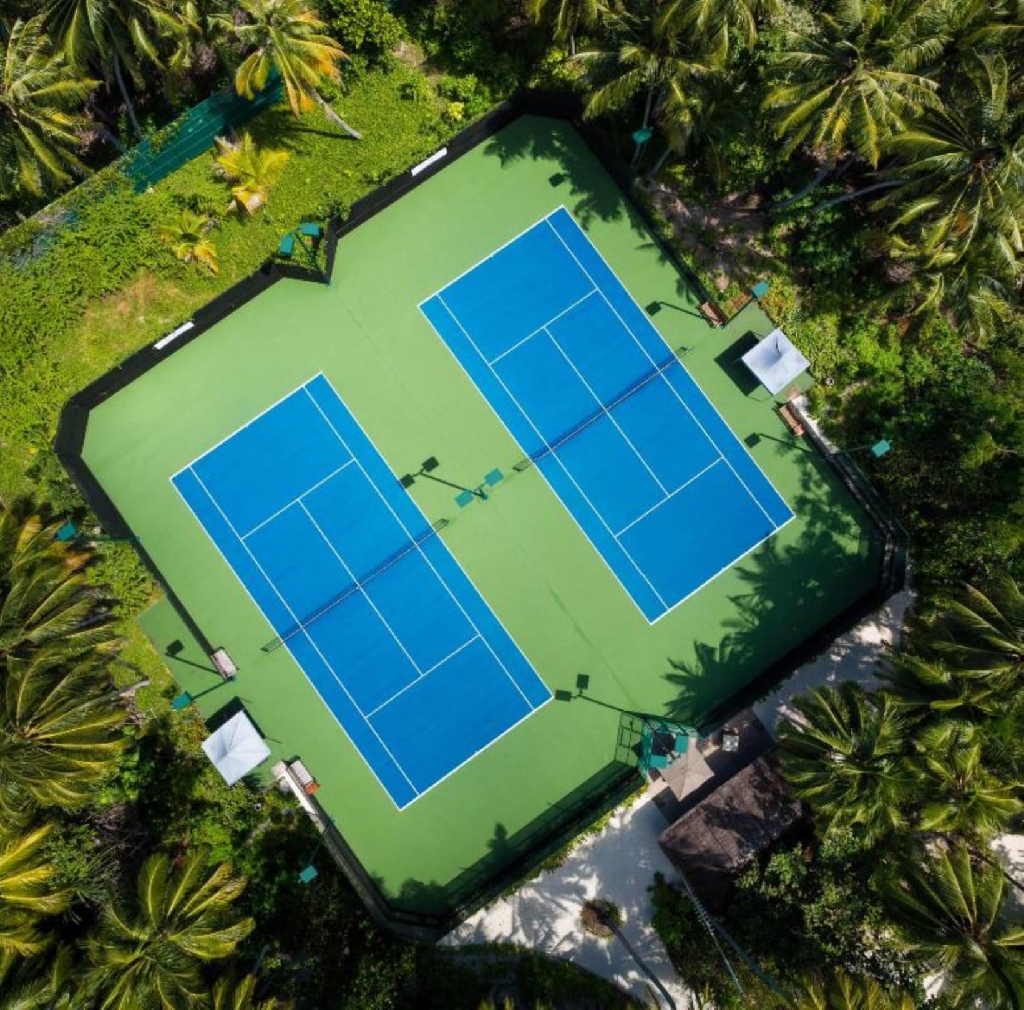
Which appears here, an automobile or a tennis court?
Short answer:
tennis court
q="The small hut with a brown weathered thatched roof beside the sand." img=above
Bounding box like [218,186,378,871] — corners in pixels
[655,750,812,896]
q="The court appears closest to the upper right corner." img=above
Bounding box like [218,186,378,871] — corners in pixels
[418,206,796,625]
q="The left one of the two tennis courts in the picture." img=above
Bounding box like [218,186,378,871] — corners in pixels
[170,373,553,810]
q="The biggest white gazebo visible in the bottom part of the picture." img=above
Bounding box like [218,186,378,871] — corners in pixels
[204,706,284,784]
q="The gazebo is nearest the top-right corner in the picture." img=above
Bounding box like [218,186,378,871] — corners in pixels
[730,331,808,404]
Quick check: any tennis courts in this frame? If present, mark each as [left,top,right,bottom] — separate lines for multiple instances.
[170,373,553,810]
[418,206,796,625]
